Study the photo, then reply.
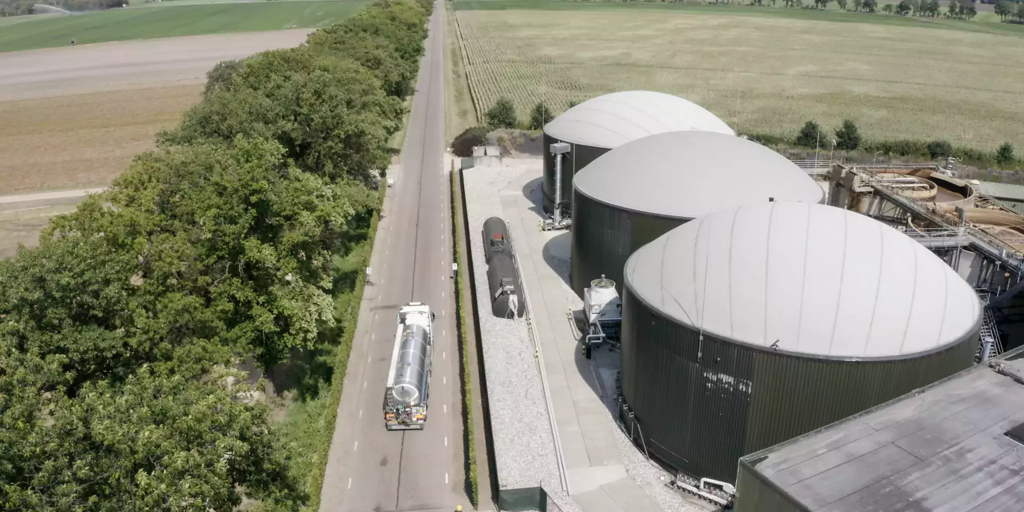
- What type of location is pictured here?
industrial area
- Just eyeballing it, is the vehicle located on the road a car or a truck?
truck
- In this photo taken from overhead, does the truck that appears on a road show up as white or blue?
white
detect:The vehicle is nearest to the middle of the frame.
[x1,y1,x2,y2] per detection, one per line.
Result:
[385,304,436,432]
